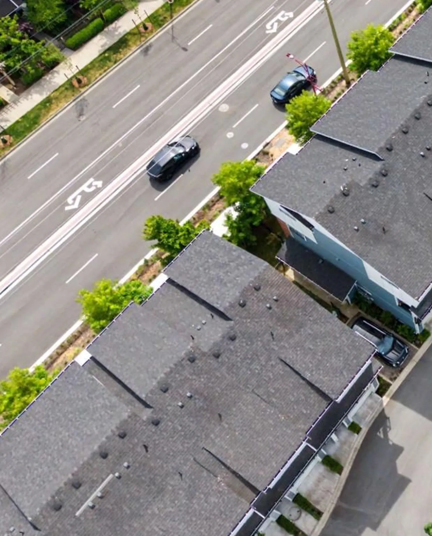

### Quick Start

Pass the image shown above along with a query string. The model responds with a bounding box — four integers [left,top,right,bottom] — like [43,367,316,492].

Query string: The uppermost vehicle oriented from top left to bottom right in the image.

[344,309,412,370]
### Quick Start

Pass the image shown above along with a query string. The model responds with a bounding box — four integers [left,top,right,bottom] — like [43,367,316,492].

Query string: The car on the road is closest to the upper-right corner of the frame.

[267,64,316,108]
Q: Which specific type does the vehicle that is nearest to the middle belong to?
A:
car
